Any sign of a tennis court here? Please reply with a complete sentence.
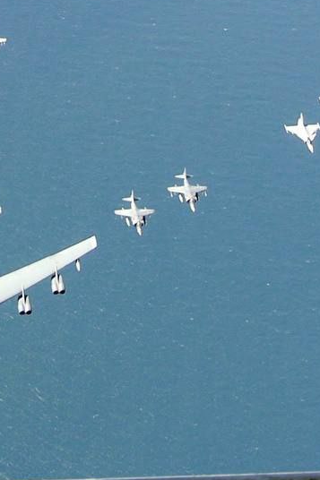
No, the picture doesn't show any tennis court.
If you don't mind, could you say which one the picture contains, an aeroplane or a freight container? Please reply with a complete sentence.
Looking from above, you can make out an aeroplane.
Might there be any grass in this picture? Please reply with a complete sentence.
No, the scene doesn't show any grass.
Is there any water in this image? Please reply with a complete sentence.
Yes, there's water in this view.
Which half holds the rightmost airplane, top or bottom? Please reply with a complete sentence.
The top half of the photo is where the rightmost airplane is.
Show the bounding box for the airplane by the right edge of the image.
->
[284,112,320,152]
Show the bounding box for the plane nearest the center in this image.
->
[115,191,154,235]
